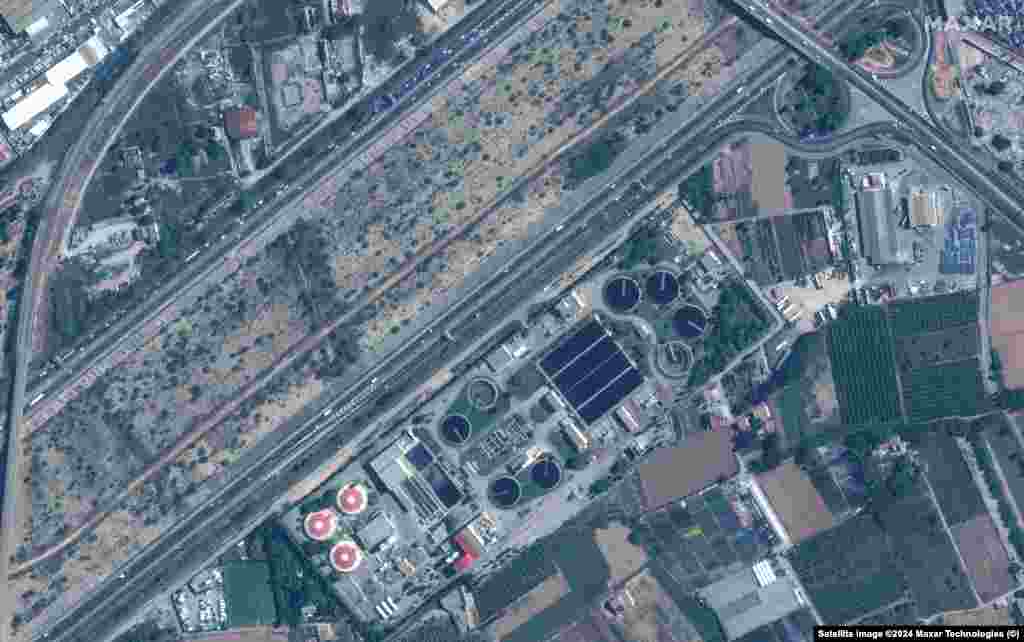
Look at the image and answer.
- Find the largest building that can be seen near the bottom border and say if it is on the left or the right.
right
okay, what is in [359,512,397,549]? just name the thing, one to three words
house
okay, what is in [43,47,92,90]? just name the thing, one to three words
building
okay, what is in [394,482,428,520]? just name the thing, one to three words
building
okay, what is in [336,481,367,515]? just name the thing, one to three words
storage tank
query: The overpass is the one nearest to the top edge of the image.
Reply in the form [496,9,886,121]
[731,0,1024,227]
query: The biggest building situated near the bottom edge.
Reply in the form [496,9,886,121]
[703,559,802,641]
